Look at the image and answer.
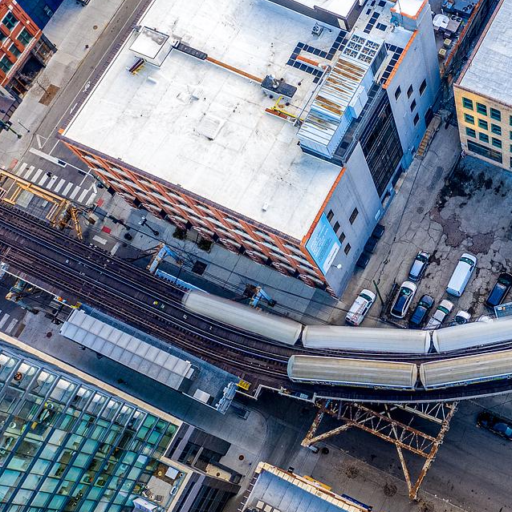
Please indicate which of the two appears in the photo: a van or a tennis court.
van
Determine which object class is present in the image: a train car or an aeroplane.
train car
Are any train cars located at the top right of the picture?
No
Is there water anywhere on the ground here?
No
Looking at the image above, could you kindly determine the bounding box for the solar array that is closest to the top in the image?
[363,0,389,33]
